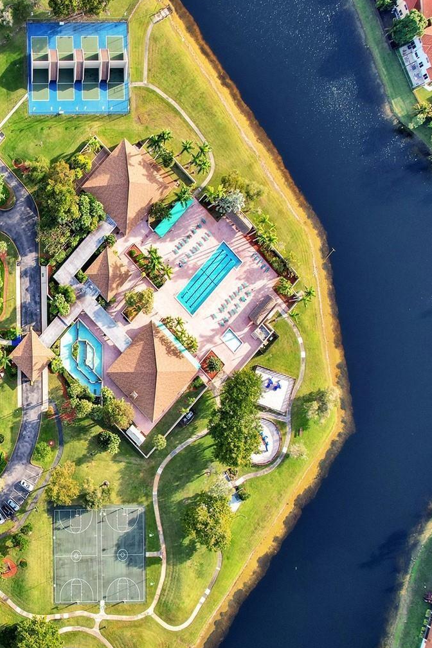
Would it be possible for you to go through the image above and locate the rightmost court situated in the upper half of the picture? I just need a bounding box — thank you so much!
[106,36,128,100]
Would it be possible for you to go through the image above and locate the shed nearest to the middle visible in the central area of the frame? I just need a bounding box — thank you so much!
[245,294,277,327]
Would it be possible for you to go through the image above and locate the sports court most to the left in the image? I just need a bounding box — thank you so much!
[31,36,51,100]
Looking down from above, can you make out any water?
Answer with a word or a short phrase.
Yes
